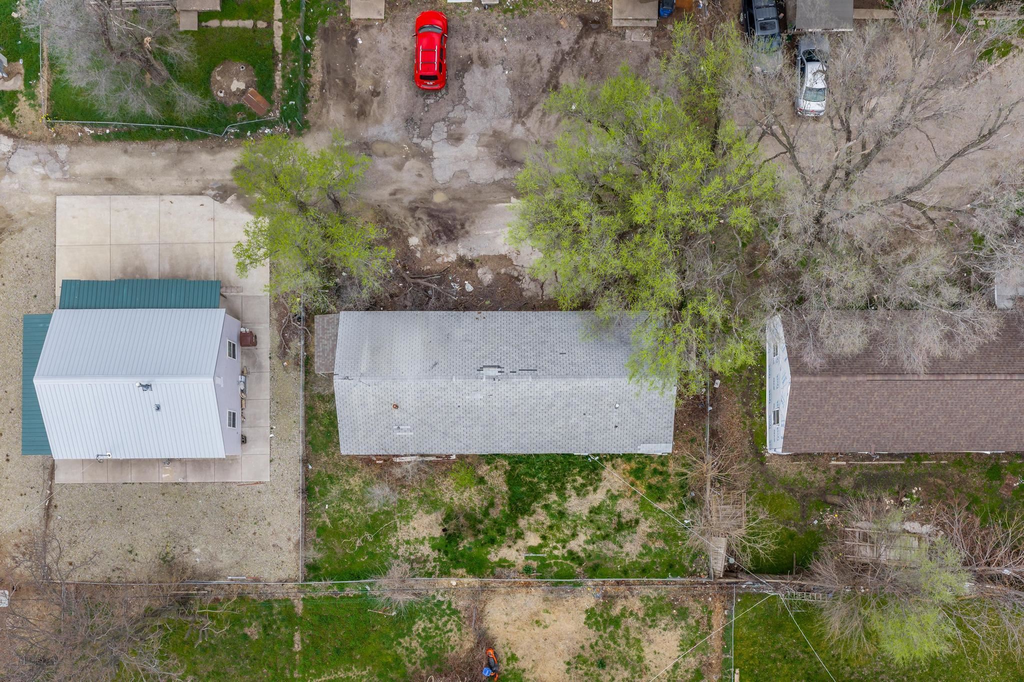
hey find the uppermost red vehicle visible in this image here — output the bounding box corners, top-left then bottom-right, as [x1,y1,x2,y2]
[411,13,449,94]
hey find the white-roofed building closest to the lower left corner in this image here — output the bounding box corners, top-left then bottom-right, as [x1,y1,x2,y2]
[23,279,242,465]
